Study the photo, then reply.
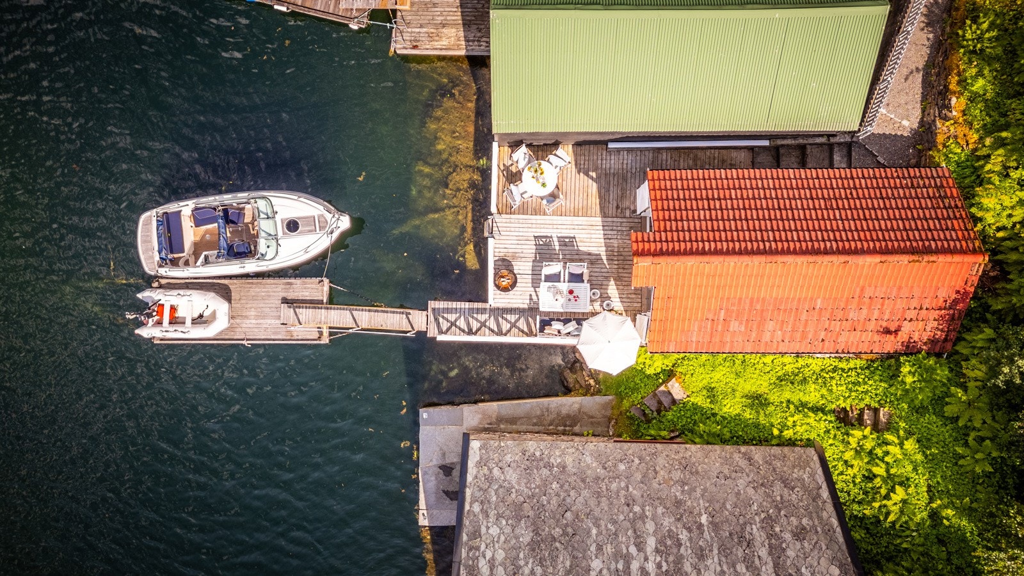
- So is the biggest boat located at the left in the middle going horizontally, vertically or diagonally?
horizontally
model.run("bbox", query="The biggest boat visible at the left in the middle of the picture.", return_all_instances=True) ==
[135,191,352,279]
